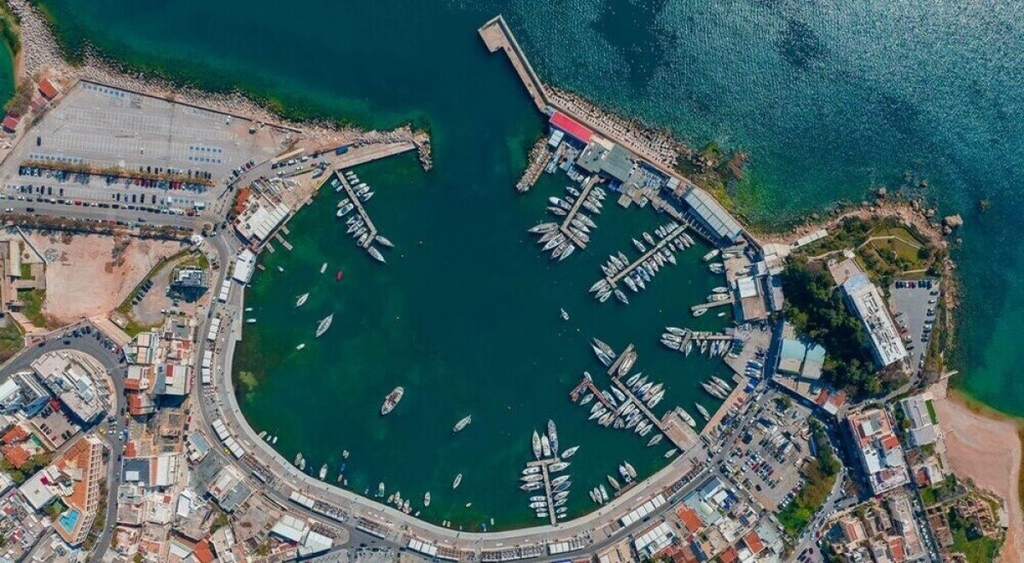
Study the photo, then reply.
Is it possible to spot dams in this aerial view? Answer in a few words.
No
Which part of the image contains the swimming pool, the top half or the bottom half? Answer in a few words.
bottom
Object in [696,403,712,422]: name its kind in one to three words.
boat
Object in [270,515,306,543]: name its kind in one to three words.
building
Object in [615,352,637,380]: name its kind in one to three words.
boat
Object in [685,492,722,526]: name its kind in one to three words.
house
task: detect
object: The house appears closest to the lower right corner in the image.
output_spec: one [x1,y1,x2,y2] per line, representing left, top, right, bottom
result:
[926,505,954,548]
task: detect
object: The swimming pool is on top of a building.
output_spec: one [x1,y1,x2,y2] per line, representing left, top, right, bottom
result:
[59,509,80,533]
